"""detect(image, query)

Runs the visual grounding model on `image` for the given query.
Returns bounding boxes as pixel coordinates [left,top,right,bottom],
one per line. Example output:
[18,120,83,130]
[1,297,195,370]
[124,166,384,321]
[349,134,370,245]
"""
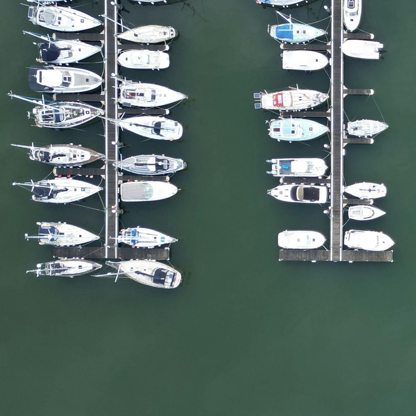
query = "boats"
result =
[98,12,179,45]
[267,159,328,178]
[22,257,103,275]
[91,113,185,141]
[344,0,361,31]
[342,183,386,200]
[266,183,330,202]
[23,225,101,248]
[343,228,395,250]
[339,40,386,60]
[343,120,389,138]
[102,154,188,174]
[11,179,103,205]
[113,50,172,72]
[8,142,105,168]
[8,92,104,127]
[262,116,330,142]
[344,205,387,220]
[117,181,180,202]
[108,75,187,107]
[26,0,103,32]
[267,10,328,46]
[20,30,104,63]
[254,86,328,112]
[25,66,104,94]
[280,51,329,73]
[107,228,178,249]
[278,231,325,250]
[91,257,183,287]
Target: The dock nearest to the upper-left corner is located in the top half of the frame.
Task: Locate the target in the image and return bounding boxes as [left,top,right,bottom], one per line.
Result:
[50,27,105,47]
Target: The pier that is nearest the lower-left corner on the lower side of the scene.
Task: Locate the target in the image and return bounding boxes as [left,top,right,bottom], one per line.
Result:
[54,246,105,259]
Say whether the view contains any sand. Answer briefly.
No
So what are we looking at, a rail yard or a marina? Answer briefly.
marina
